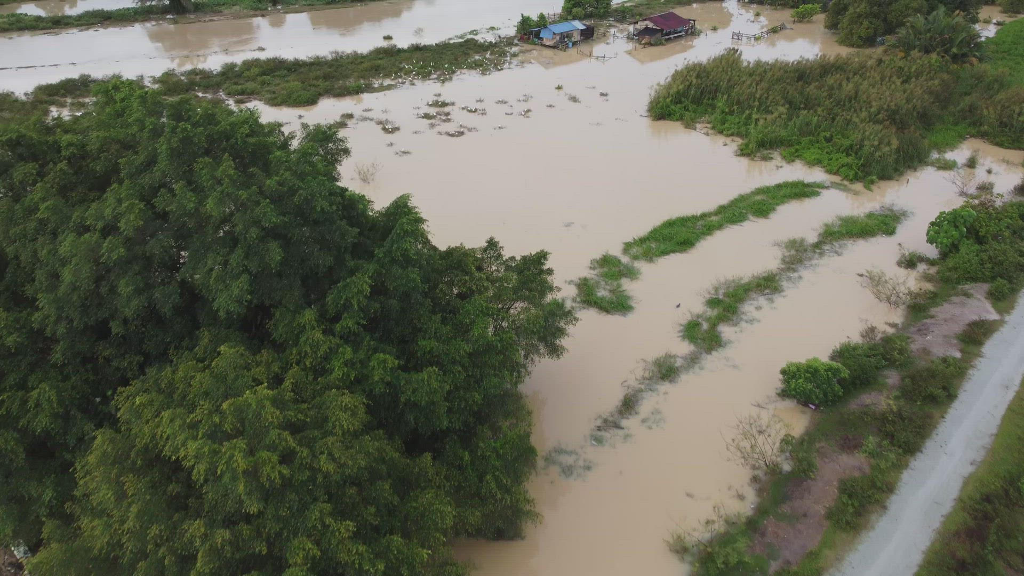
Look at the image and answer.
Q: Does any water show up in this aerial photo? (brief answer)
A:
Yes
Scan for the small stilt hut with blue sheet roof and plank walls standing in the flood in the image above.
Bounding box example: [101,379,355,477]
[516,20,595,48]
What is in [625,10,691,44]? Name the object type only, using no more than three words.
shed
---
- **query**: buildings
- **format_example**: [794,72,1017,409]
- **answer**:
[625,10,691,44]
[516,20,595,48]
